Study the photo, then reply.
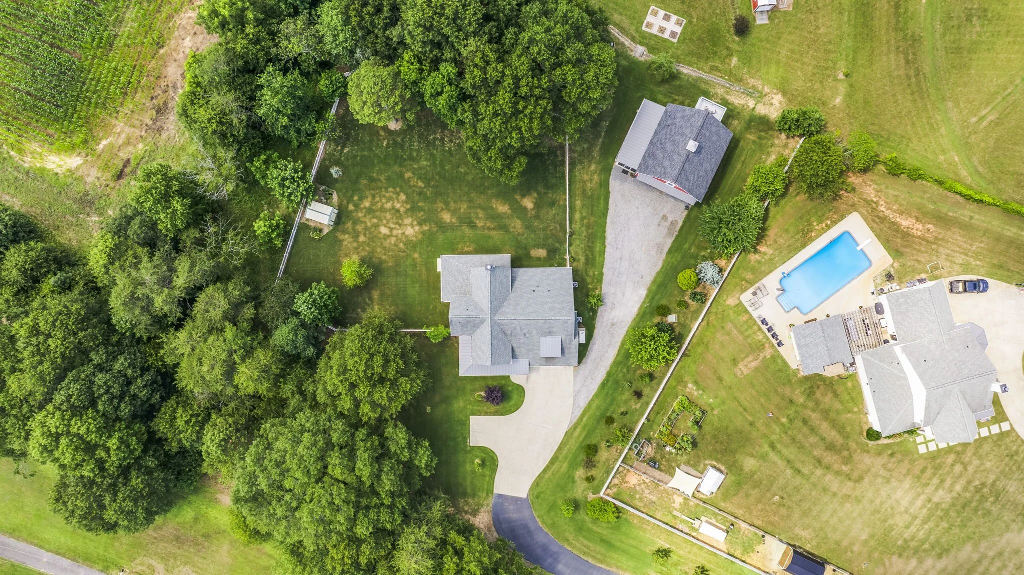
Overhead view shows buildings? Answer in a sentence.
Yes, the frame does contain a building.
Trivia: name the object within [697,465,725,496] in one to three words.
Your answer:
shed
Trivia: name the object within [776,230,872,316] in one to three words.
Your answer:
swimming pool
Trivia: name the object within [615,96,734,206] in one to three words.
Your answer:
barn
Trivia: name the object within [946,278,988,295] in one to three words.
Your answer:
vehicle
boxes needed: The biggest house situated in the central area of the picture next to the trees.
[438,254,579,376]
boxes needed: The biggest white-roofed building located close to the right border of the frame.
[854,278,1011,444]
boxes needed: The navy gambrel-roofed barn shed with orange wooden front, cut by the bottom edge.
[779,546,829,575]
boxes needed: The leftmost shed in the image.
[305,201,338,225]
